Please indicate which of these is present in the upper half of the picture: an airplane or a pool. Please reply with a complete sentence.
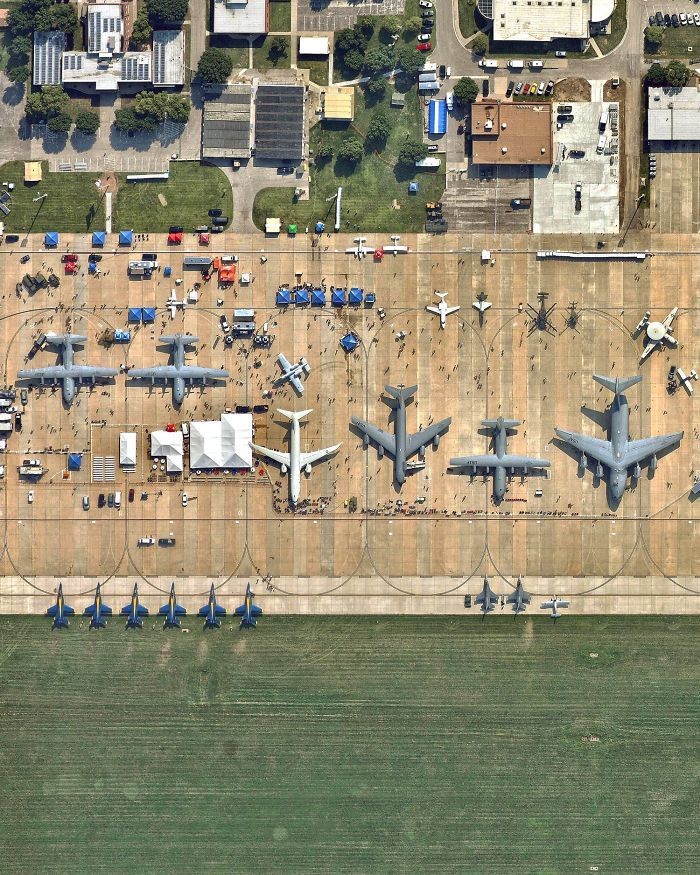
It is an airplane that can be seen in the upper half of the picture.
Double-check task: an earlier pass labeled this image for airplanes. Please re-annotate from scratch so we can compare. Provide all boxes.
[234,583,263,628]
[475,576,499,614]
[473,291,491,326]
[635,307,677,360]
[166,291,186,316]
[197,583,226,627]
[271,352,310,393]
[555,373,685,499]
[508,575,532,614]
[382,236,409,255]
[158,582,187,627]
[250,408,342,504]
[121,583,150,628]
[128,331,228,403]
[450,417,550,497]
[678,367,698,393]
[17,331,117,403]
[539,596,569,617]
[46,582,74,628]
[350,381,450,484]
[84,582,112,628]
[345,234,374,257]
[426,291,460,329]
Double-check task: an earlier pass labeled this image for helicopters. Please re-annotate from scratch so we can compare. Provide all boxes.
[562,303,583,328]
[527,294,557,332]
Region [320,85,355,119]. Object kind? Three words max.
shed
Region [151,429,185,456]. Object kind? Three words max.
tent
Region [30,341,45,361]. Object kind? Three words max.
vehicle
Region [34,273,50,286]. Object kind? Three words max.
vehicle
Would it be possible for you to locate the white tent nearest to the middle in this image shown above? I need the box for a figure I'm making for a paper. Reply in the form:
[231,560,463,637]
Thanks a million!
[221,412,255,467]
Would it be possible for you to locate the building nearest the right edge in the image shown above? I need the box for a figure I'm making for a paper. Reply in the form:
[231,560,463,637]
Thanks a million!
[648,85,700,140]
